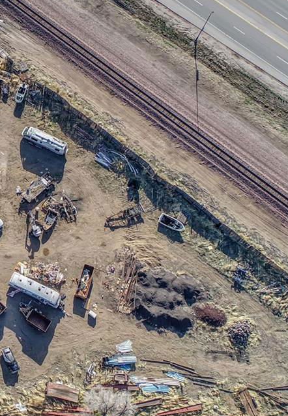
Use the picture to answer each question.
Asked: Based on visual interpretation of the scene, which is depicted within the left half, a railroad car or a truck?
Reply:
truck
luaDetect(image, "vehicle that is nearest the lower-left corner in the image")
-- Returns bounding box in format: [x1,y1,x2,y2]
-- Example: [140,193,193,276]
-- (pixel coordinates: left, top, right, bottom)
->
[2,346,20,376]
